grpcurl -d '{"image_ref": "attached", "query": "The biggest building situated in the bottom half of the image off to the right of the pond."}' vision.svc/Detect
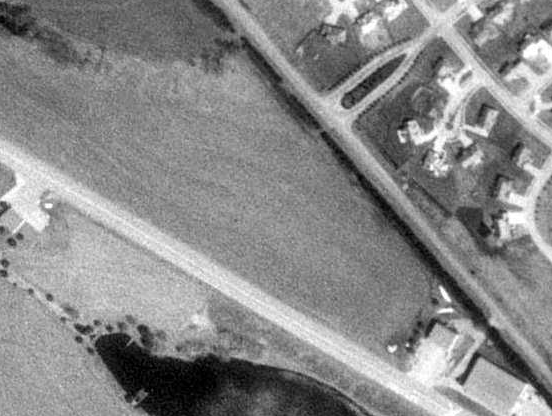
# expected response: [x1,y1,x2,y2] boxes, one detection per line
[464,358,526,412]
